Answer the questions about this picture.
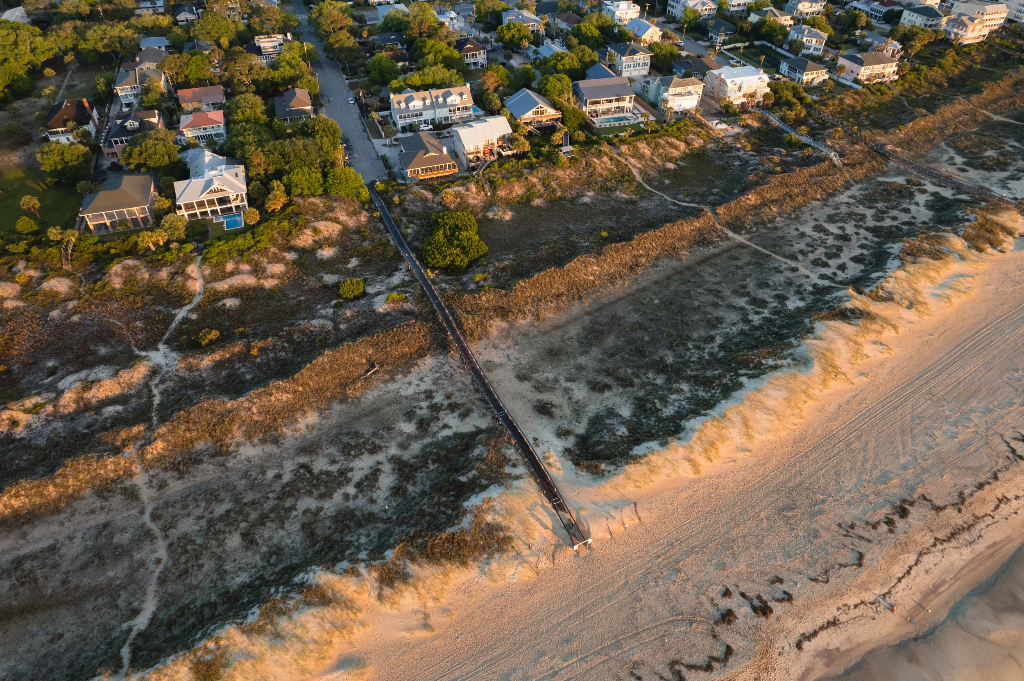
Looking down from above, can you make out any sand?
Yes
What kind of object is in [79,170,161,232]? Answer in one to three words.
house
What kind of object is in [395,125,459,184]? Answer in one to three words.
house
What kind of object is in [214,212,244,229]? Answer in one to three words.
swimming pool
